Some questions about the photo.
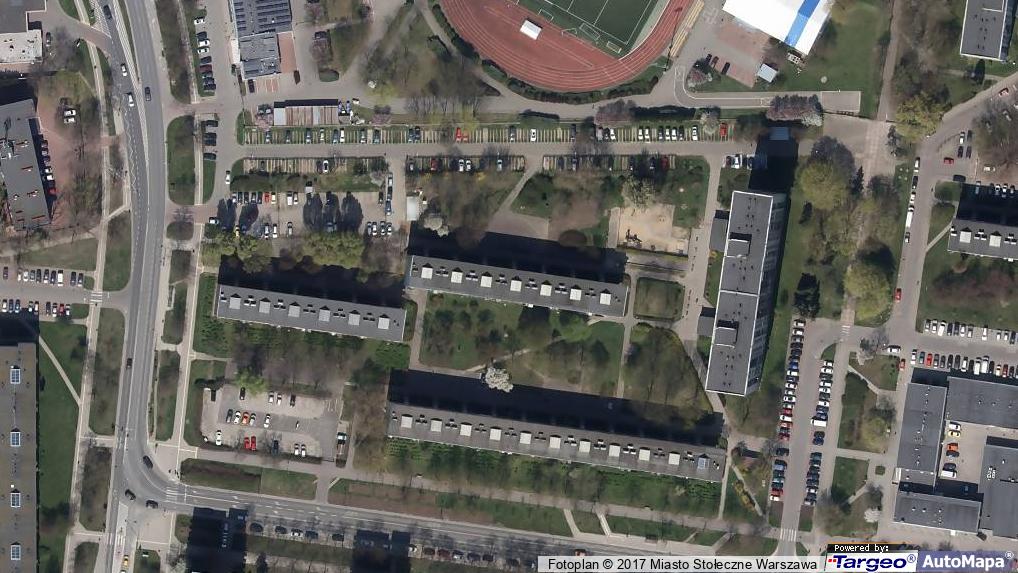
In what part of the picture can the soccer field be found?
top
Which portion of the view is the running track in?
top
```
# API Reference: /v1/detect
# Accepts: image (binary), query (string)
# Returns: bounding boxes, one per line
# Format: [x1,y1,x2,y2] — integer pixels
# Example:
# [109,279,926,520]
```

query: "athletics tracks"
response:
[439,0,699,95]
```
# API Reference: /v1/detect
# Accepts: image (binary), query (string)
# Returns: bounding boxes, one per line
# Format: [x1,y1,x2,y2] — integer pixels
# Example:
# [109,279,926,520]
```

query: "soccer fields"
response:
[520,0,669,60]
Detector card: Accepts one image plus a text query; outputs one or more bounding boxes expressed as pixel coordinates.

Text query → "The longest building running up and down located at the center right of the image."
[706,191,783,396]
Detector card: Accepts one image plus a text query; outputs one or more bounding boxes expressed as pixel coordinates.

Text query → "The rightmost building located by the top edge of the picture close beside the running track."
[722,0,836,55]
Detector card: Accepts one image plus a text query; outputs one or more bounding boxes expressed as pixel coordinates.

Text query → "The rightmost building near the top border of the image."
[959,0,1012,61]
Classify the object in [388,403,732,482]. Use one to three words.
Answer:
building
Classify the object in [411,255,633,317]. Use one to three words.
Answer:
building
